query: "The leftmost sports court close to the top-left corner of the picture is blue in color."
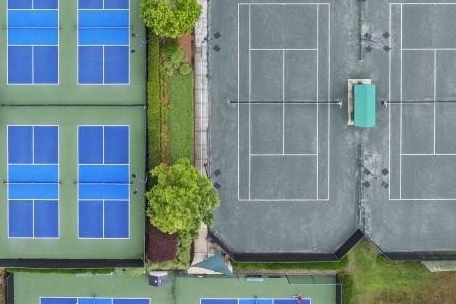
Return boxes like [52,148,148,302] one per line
[7,0,58,85]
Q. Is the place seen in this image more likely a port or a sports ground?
sports ground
